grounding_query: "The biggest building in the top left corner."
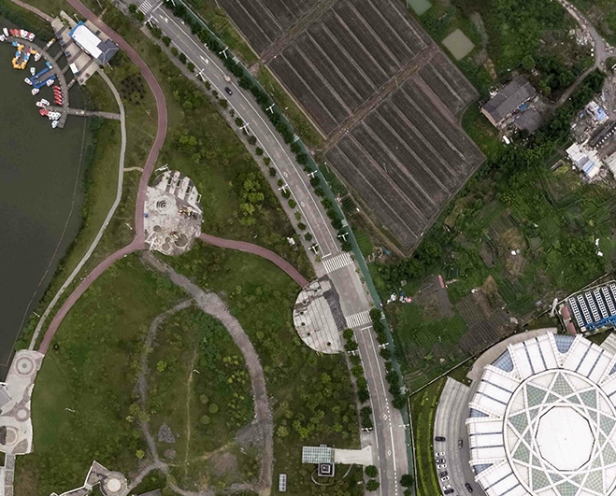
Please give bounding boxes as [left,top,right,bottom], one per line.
[68,23,115,68]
